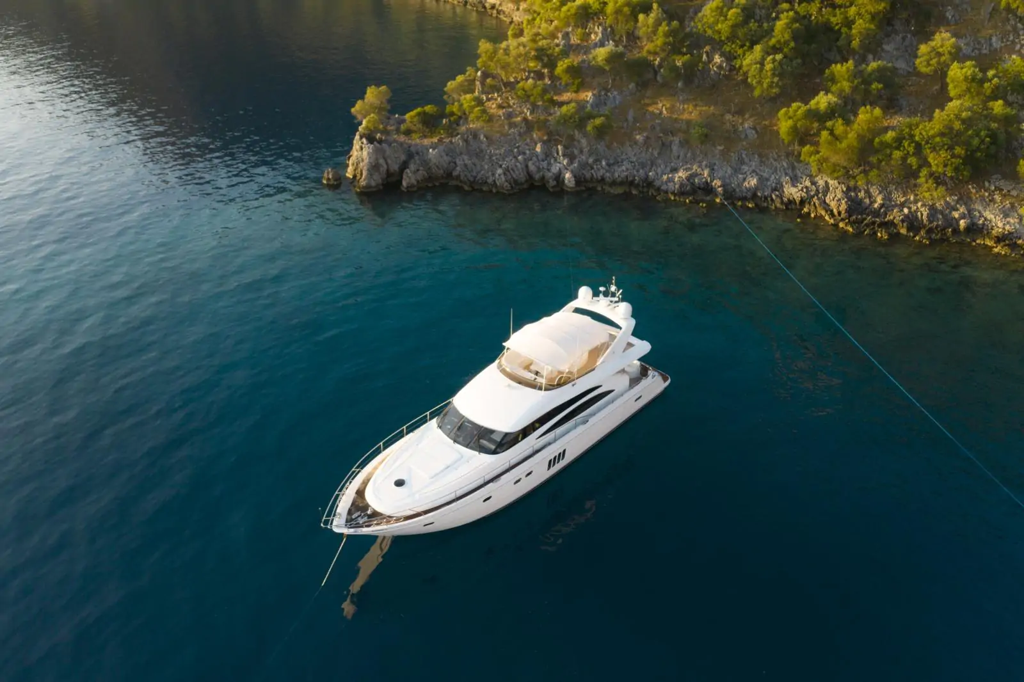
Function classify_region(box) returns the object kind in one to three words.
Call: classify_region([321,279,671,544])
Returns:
boat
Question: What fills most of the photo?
water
